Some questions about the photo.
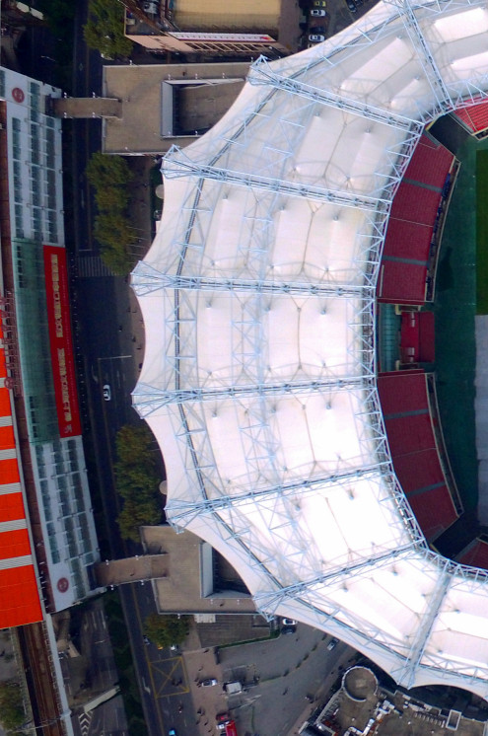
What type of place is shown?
sports ground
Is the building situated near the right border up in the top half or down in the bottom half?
bottom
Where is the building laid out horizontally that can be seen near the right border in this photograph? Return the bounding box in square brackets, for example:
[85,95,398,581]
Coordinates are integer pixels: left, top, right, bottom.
[301,649,488,736]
